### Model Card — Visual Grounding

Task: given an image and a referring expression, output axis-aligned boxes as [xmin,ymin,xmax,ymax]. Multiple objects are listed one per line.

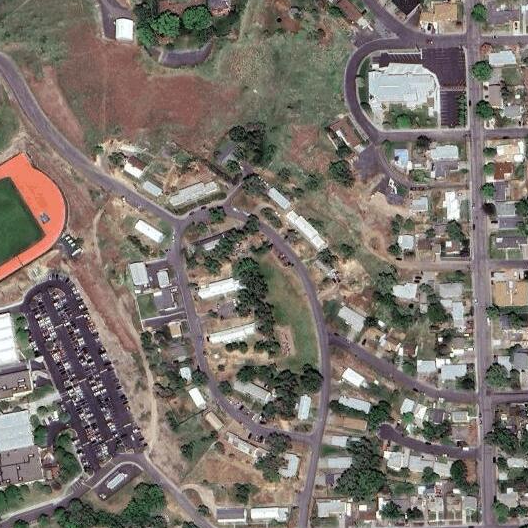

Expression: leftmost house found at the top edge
[115,19,136,41]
